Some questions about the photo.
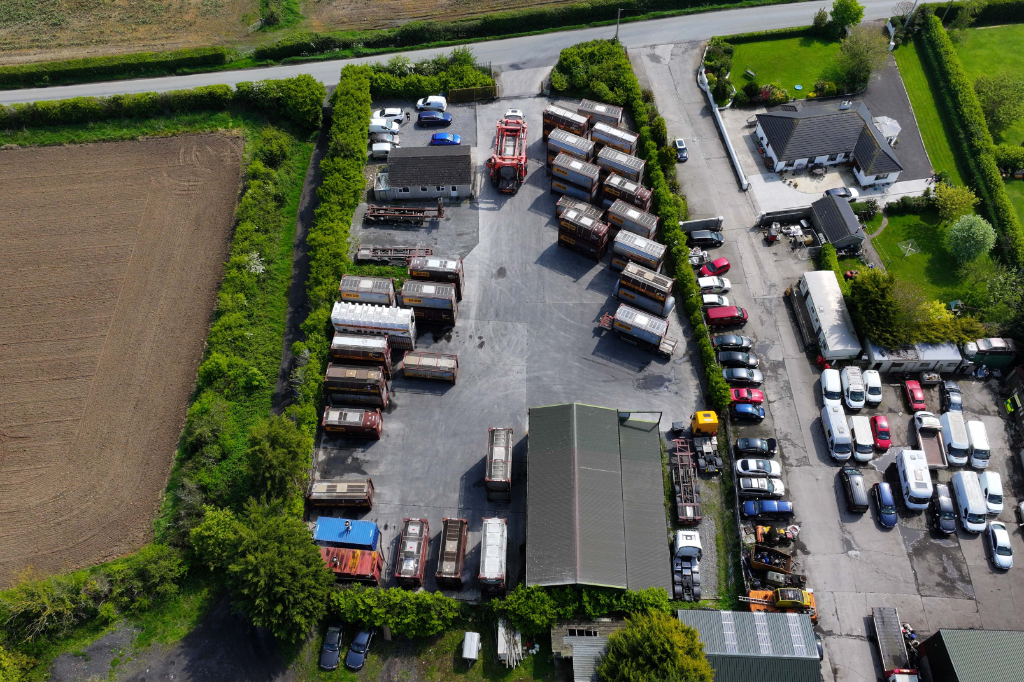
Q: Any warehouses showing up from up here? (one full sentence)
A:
Yes, a warehouse appears in the view.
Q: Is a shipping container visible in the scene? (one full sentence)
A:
Yes, looking at the shot, I can spot a shipping container.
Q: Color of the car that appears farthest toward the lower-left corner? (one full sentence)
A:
The color of the car that appears farthest toward the lower-left corner is black.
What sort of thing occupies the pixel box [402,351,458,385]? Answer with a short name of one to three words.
shipping container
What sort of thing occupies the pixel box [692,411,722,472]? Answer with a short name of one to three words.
truck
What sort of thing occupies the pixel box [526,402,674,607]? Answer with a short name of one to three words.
warehouse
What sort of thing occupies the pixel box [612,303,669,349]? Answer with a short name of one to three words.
shipping container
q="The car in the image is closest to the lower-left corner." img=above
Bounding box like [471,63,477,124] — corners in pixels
[318,622,345,673]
